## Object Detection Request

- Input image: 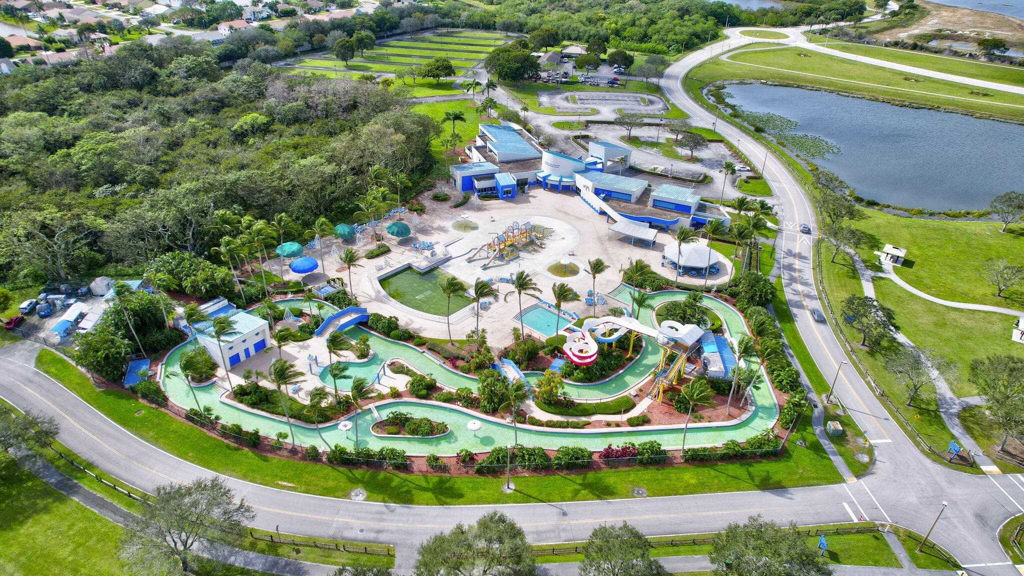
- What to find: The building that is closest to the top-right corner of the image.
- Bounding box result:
[881,243,907,266]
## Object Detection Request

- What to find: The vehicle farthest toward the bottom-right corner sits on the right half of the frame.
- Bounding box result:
[810,304,828,320]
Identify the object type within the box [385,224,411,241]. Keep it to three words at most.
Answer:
umbrella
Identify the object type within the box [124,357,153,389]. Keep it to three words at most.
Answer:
shed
